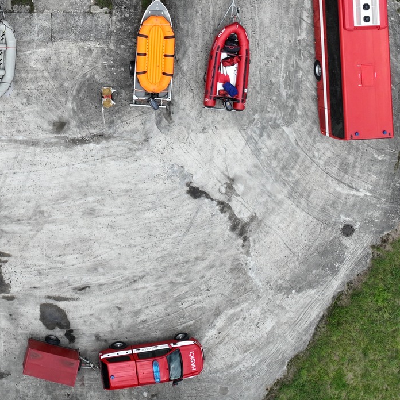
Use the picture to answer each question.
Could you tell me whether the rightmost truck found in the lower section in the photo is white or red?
red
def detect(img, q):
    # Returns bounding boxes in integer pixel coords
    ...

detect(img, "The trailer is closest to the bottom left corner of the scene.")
[22,339,97,387]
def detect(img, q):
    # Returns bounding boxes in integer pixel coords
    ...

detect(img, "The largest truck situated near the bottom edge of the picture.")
[93,330,206,389]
